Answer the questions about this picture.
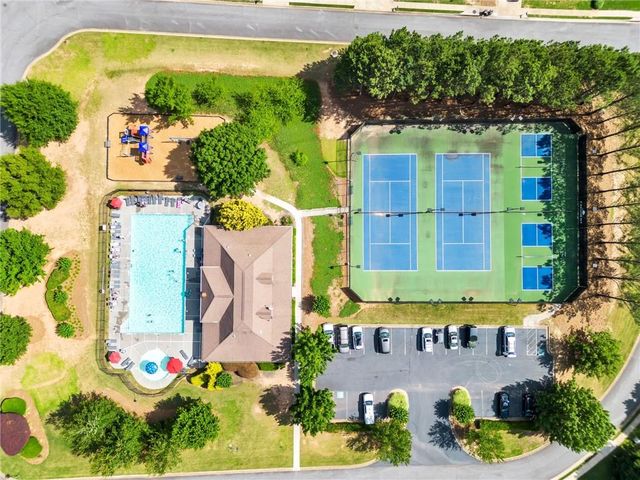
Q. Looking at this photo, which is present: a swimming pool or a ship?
swimming pool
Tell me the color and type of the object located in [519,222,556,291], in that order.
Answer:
blue sports court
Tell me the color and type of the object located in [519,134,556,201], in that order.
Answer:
blue sports court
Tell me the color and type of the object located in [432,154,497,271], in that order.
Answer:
blue tennis court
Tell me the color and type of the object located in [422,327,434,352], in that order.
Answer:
white vehicle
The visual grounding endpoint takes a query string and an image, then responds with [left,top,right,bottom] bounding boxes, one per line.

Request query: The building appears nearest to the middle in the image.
[200,224,293,362]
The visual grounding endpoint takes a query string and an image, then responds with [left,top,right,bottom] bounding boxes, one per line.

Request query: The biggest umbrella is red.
[167,357,184,374]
